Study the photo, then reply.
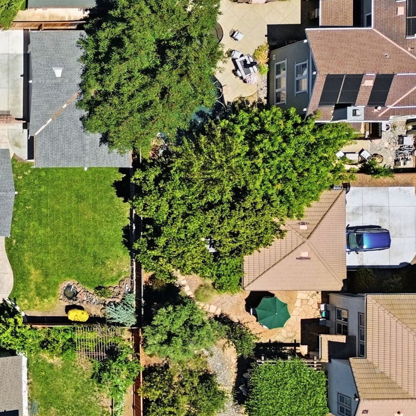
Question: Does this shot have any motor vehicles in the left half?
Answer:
No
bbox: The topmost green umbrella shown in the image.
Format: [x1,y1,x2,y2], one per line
[261,295,295,331]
